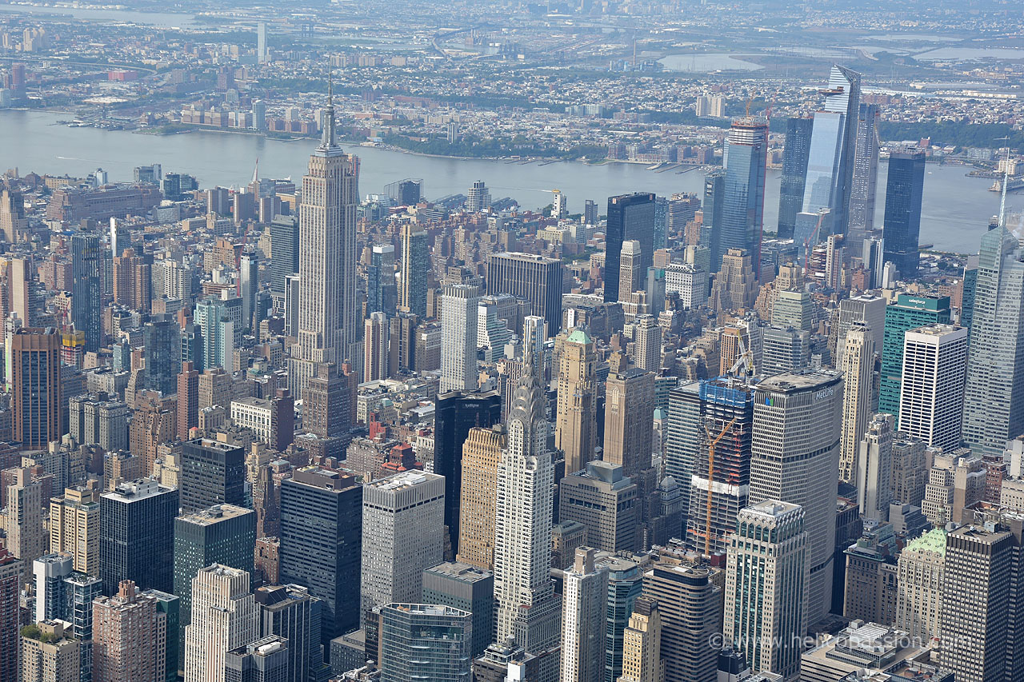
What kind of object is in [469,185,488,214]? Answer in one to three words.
building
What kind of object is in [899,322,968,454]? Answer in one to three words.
building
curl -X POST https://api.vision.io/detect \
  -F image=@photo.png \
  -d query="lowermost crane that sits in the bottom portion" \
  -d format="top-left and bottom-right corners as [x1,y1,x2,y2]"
[703,418,737,558]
